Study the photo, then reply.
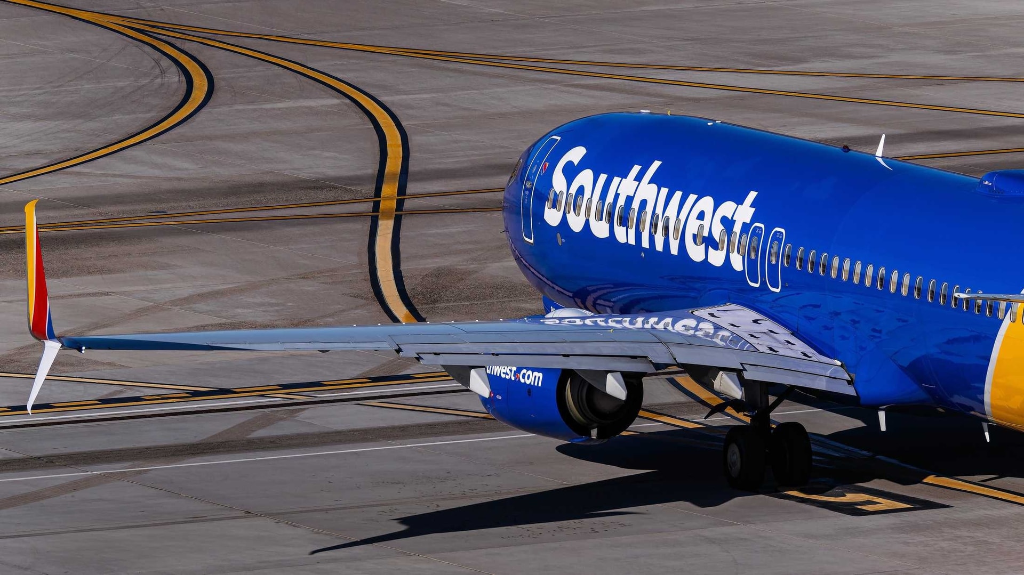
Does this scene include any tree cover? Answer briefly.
No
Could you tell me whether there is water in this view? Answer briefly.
No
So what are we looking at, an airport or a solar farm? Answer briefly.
airport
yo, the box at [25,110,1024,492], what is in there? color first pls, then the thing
blue airplane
